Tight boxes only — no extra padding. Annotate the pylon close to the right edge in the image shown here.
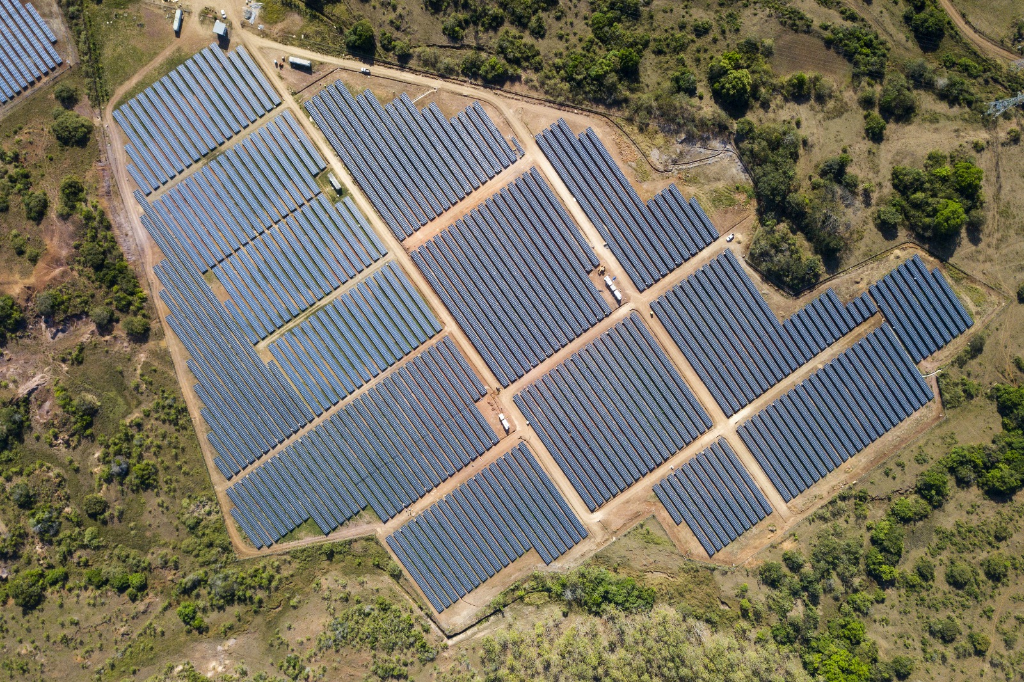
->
[981,88,1024,119]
